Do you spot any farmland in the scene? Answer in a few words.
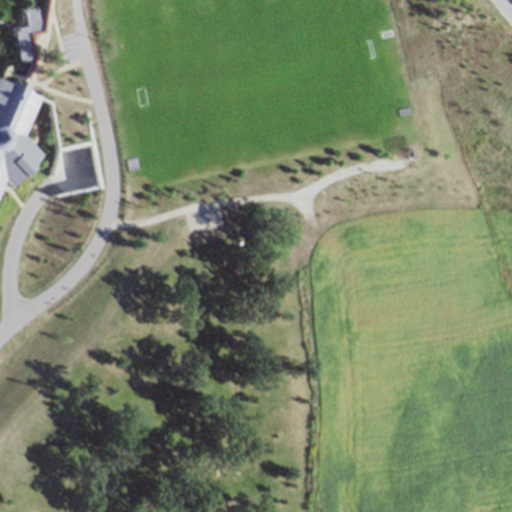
Yes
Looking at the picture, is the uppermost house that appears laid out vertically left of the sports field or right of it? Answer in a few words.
to the left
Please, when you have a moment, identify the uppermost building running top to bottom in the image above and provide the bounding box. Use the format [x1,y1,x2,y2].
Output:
[16,8,42,62]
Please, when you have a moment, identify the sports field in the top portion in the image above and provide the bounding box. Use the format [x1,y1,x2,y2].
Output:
[94,0,410,186]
